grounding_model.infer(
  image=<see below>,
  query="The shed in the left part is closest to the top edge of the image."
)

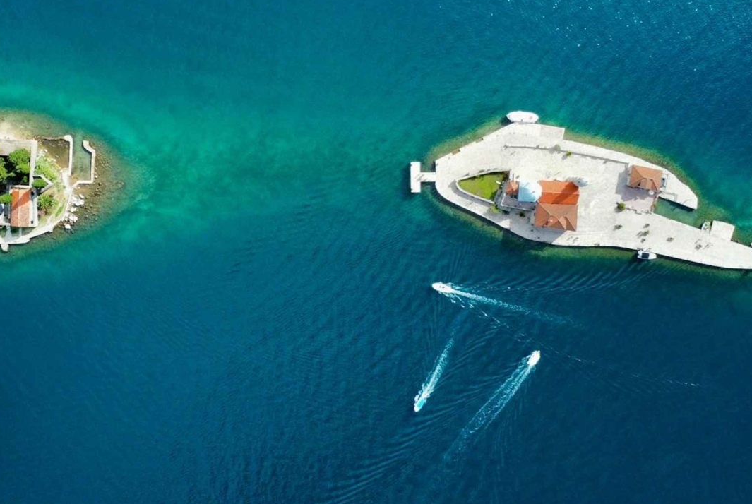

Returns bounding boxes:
[0,140,38,176]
